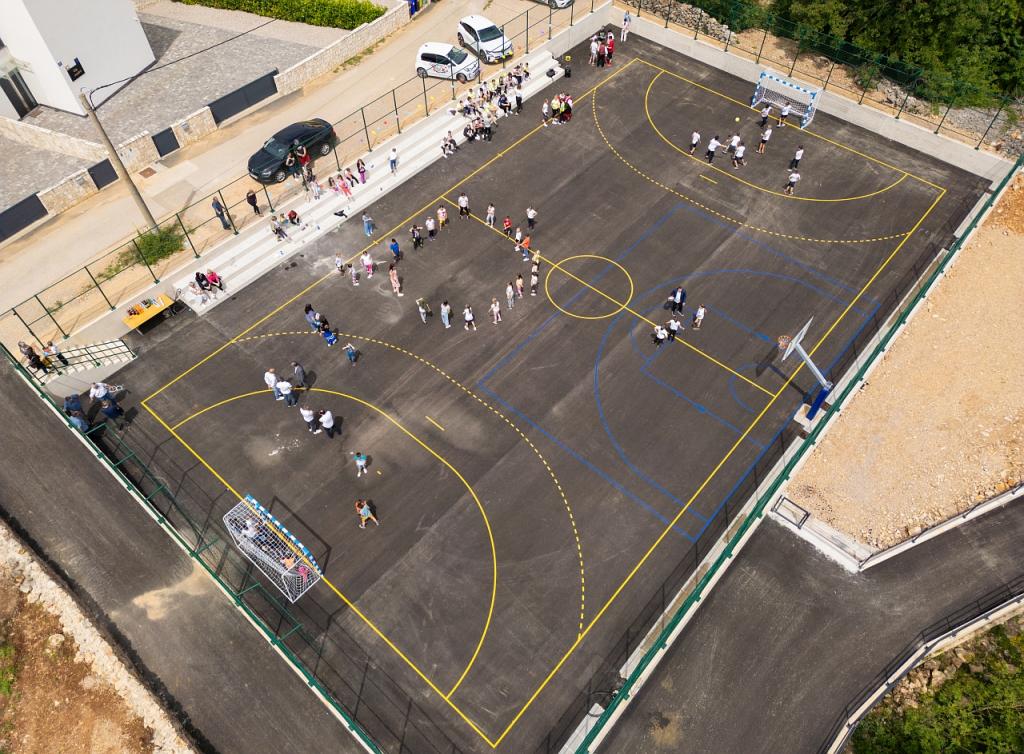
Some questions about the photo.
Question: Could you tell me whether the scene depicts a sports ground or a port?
sports ground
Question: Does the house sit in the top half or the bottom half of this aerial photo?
top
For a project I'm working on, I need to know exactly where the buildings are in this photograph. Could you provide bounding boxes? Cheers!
[0,0,154,121]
